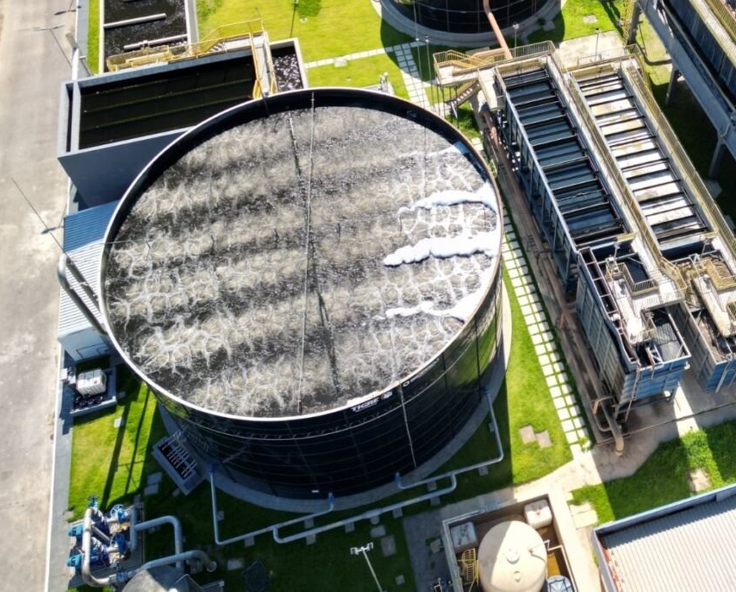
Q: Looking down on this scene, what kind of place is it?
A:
industrial area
